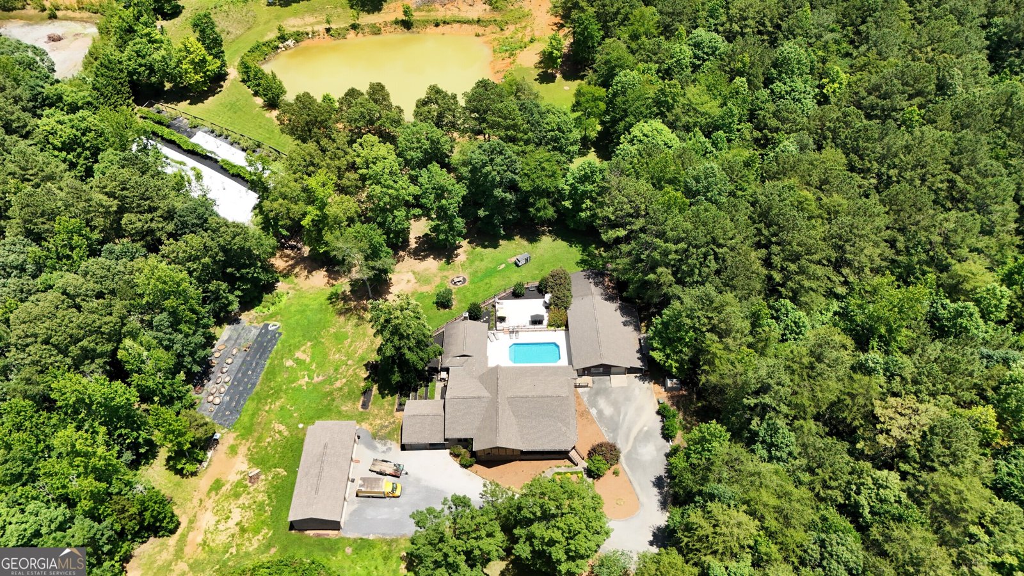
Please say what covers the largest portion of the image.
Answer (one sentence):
For the most part, this view shows trees.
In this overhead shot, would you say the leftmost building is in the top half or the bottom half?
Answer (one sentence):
It is in the bottom half that the leftmost building appears.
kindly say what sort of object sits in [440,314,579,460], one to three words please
house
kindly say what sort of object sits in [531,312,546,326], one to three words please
gazebo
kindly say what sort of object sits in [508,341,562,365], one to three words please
swimming pool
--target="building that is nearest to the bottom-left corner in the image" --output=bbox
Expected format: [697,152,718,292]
[287,416,358,527]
